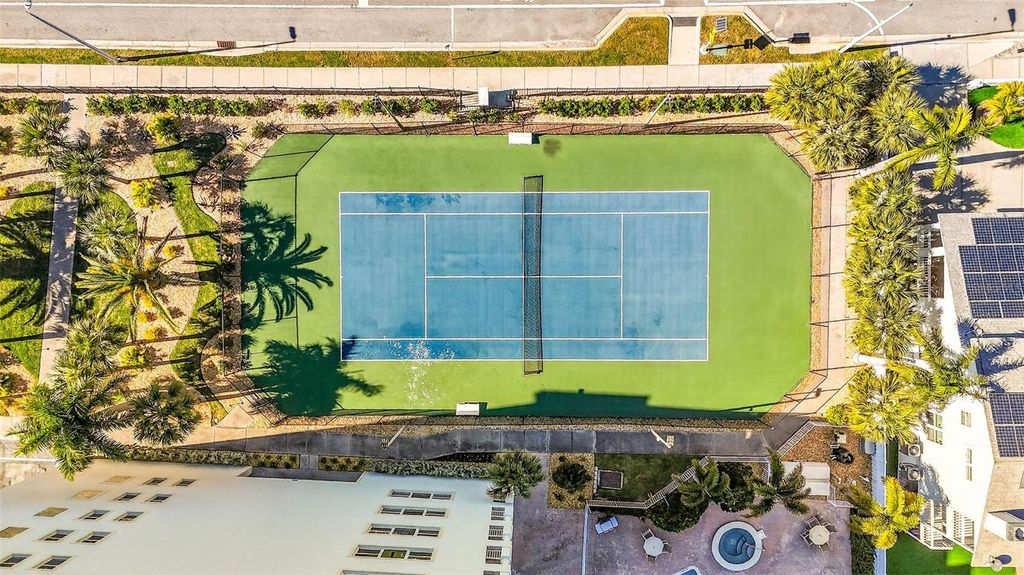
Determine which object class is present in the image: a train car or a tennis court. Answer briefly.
tennis court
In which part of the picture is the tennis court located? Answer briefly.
center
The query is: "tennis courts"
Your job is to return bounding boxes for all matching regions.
[241,133,812,416]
